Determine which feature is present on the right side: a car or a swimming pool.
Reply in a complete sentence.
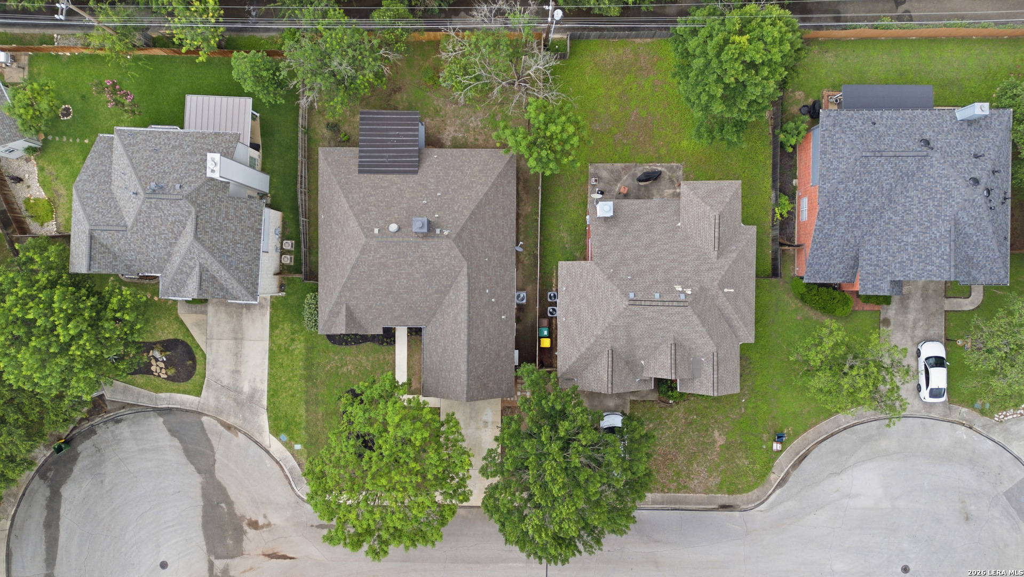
You can see a car on the right side.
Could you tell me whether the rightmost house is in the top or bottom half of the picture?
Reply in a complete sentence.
It is in the top half that the rightmost house appears.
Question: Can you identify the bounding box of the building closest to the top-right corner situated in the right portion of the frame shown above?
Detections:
[796,102,1013,295]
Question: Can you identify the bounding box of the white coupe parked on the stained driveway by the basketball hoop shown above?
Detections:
[915,340,949,402]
